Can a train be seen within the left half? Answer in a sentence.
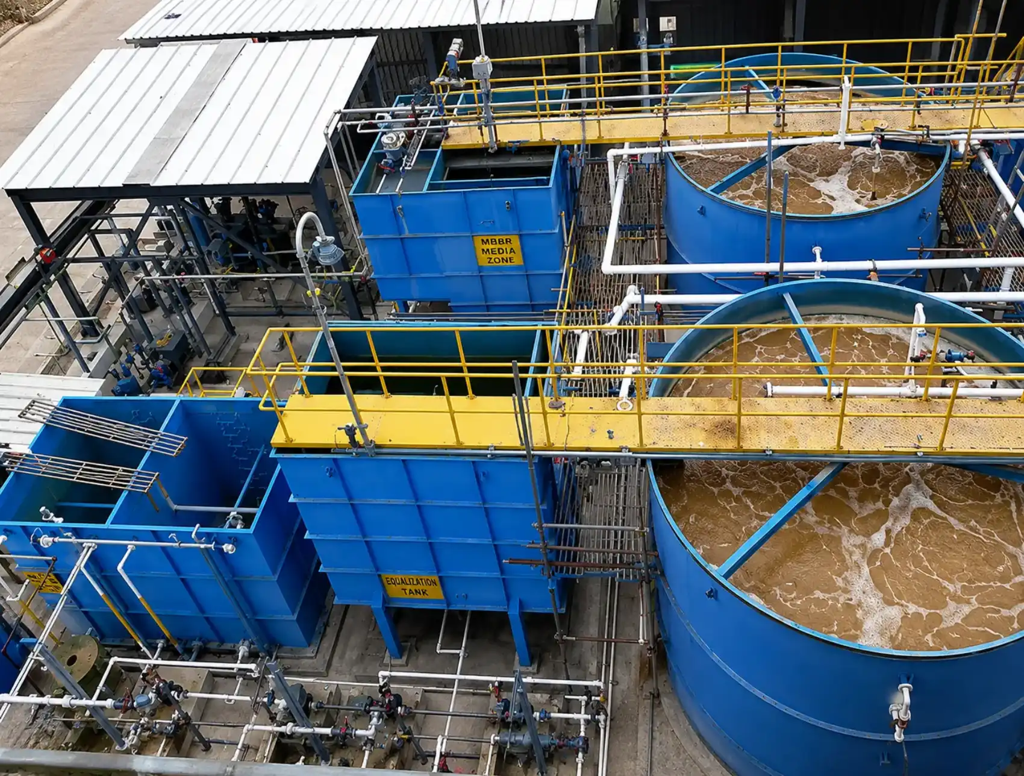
No, there's no train to be seen within the left half.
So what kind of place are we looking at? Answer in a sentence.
What you see here is an industrial area.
